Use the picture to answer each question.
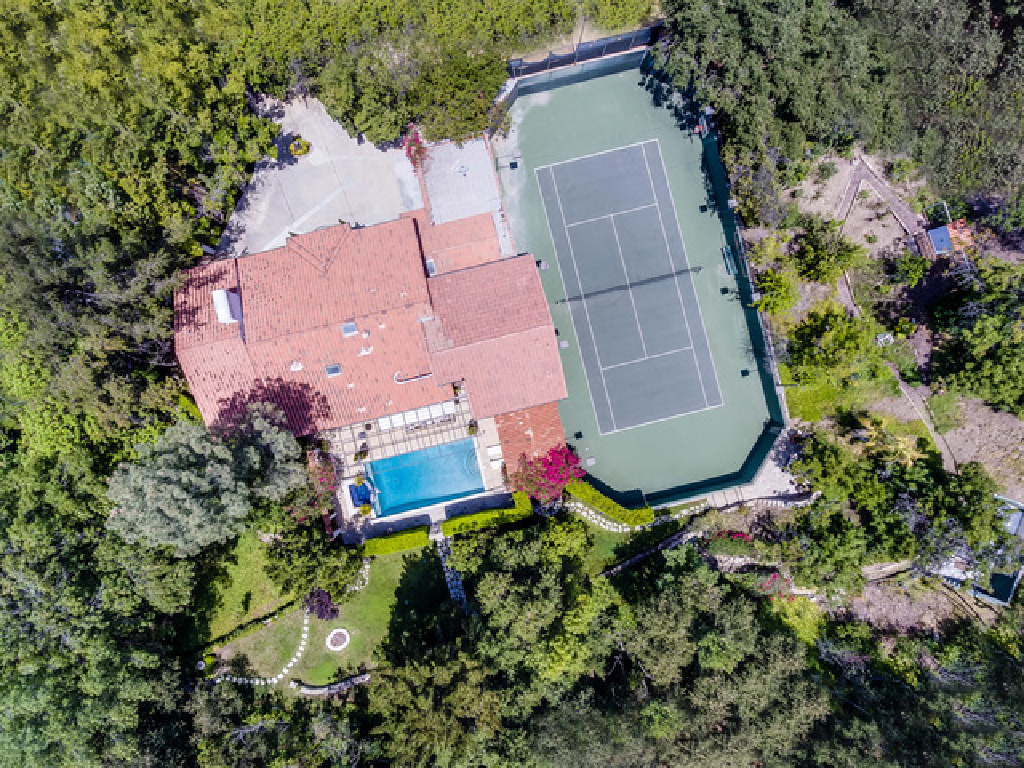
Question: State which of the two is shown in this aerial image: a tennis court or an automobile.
tennis court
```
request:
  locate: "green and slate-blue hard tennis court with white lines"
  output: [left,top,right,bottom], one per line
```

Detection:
[492,67,770,502]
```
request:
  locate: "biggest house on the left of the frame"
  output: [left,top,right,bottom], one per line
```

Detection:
[174,208,568,476]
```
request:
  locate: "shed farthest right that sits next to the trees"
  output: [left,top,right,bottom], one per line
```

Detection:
[992,505,1024,541]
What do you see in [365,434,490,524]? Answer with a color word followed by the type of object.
blue swimming pool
